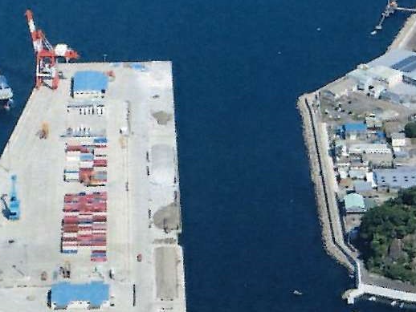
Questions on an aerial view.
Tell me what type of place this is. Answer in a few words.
port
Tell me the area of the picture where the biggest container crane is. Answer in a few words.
top left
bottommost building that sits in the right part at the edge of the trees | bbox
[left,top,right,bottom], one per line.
[345,190,366,214]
